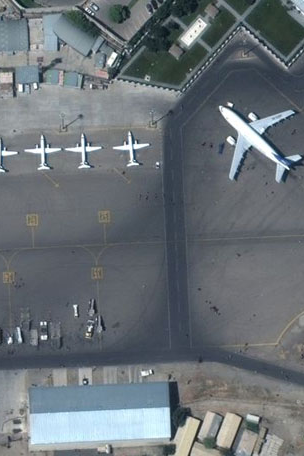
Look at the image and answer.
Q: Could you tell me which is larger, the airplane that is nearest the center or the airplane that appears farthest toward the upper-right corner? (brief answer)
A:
the airplane that appears farthest toward the upper-right corner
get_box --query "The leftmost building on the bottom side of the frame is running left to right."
[30,383,171,449]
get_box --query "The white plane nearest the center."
[113,133,150,164]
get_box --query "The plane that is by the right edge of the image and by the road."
[219,108,303,181]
